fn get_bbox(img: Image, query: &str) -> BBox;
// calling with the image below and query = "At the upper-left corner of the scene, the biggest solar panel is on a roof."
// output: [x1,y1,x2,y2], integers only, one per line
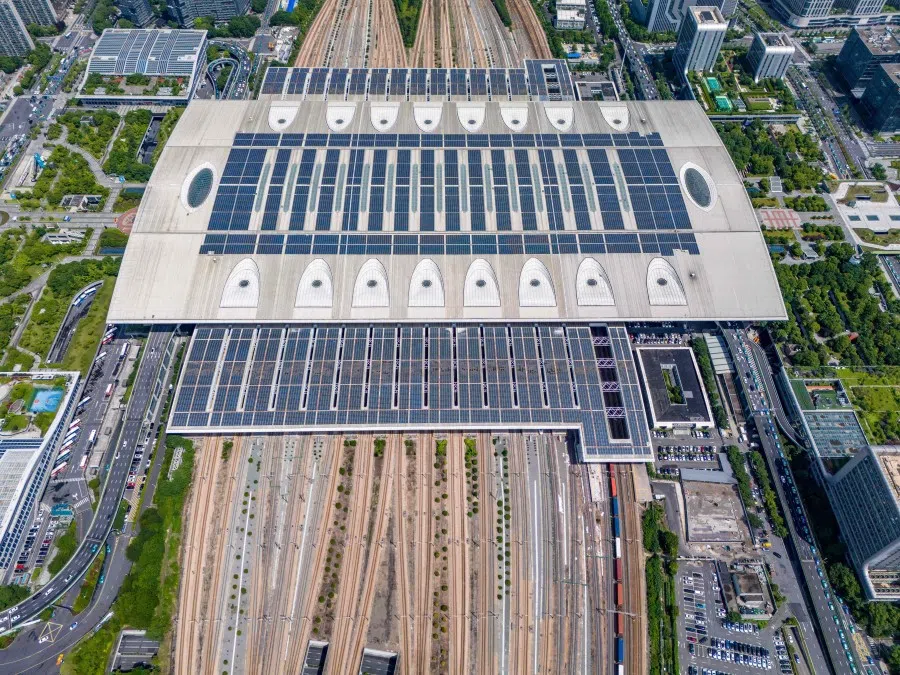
[90,27,202,72]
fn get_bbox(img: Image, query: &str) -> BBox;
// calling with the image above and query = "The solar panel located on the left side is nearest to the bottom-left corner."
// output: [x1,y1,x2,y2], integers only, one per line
[0,439,38,461]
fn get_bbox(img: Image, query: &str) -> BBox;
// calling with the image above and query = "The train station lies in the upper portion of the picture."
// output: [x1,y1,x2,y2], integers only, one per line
[105,59,788,468]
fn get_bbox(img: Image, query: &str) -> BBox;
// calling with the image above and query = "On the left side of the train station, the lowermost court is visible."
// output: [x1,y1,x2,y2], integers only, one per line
[25,387,66,412]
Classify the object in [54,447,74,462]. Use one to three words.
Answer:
vehicle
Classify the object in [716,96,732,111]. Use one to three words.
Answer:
swimming pool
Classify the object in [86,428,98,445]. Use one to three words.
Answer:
vehicle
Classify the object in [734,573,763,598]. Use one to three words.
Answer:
building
